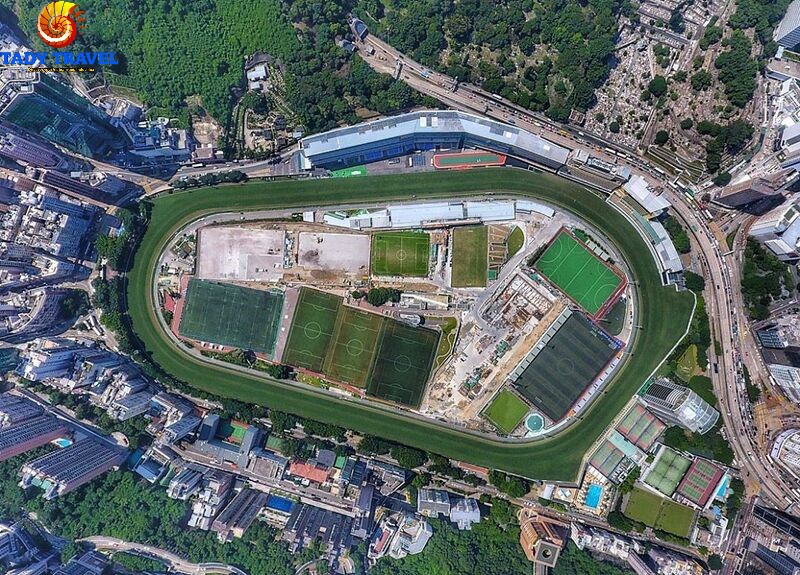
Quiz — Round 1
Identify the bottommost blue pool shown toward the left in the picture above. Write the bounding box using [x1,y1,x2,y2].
[265,495,293,514]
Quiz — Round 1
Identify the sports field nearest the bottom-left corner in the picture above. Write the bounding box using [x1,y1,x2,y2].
[180,279,283,354]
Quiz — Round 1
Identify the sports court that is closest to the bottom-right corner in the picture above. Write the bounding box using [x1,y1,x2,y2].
[677,459,727,508]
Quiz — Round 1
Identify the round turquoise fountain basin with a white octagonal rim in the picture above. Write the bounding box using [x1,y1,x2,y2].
[525,412,545,433]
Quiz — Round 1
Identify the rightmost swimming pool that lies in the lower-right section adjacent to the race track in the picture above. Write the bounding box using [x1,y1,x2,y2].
[584,483,603,509]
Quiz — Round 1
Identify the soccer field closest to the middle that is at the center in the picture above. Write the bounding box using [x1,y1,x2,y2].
[370,231,431,277]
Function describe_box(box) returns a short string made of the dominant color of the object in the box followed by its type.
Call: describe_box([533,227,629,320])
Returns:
green sports field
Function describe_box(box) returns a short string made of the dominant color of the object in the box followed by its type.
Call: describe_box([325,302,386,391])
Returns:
green soccer field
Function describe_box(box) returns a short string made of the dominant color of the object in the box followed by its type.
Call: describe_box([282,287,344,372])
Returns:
green soccer field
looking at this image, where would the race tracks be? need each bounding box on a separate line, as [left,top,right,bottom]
[125,167,695,485]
